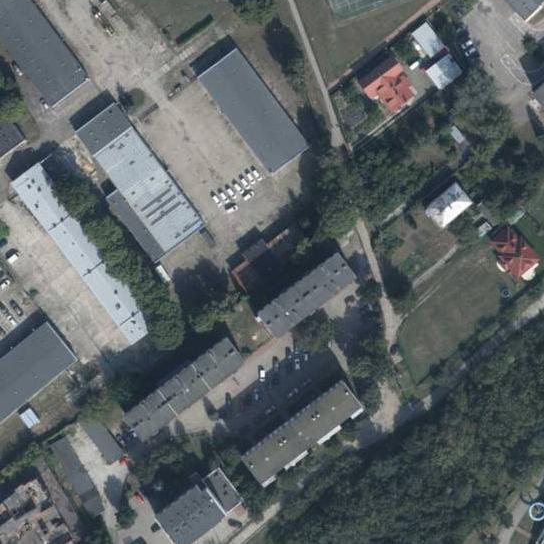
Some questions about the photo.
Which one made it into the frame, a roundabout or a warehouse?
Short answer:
warehouse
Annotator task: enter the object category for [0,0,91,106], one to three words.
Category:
building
